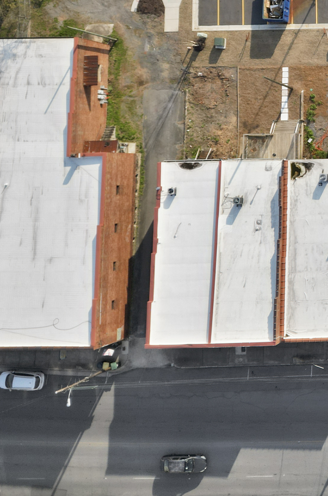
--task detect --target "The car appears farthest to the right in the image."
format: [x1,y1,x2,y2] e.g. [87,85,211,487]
[161,451,209,475]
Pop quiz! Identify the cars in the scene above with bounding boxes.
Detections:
[0,369,47,391]
[161,451,209,475]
